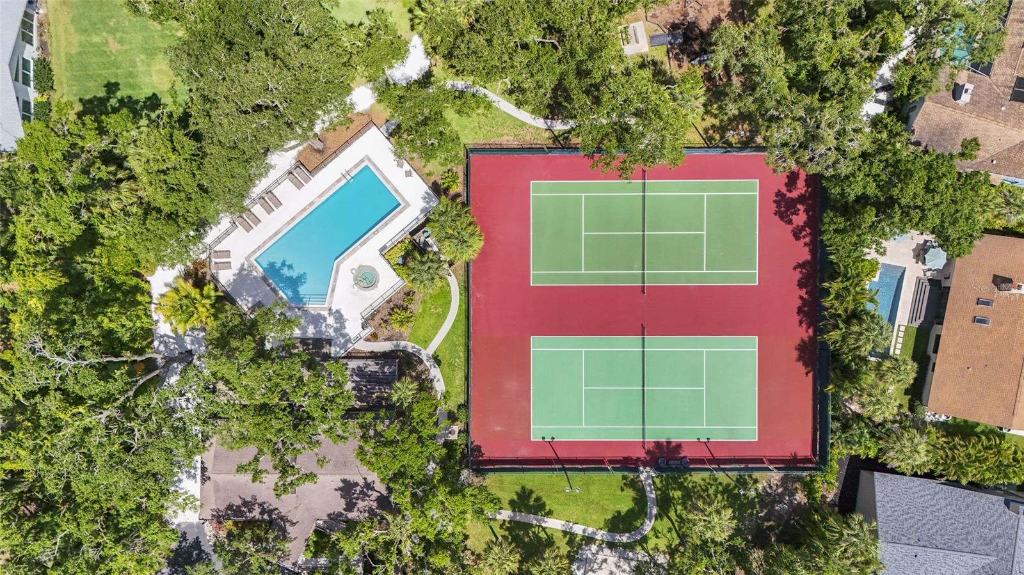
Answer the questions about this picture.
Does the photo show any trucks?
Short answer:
No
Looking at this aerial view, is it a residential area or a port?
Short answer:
residential area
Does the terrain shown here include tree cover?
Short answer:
Yes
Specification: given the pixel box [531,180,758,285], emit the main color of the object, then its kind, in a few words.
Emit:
green tennis court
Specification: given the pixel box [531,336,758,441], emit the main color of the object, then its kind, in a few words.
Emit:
green tennis court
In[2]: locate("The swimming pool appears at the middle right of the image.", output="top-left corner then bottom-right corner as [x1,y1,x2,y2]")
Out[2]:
[869,263,905,356]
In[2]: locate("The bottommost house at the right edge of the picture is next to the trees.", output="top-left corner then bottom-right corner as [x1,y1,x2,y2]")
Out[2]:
[861,467,1024,575]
